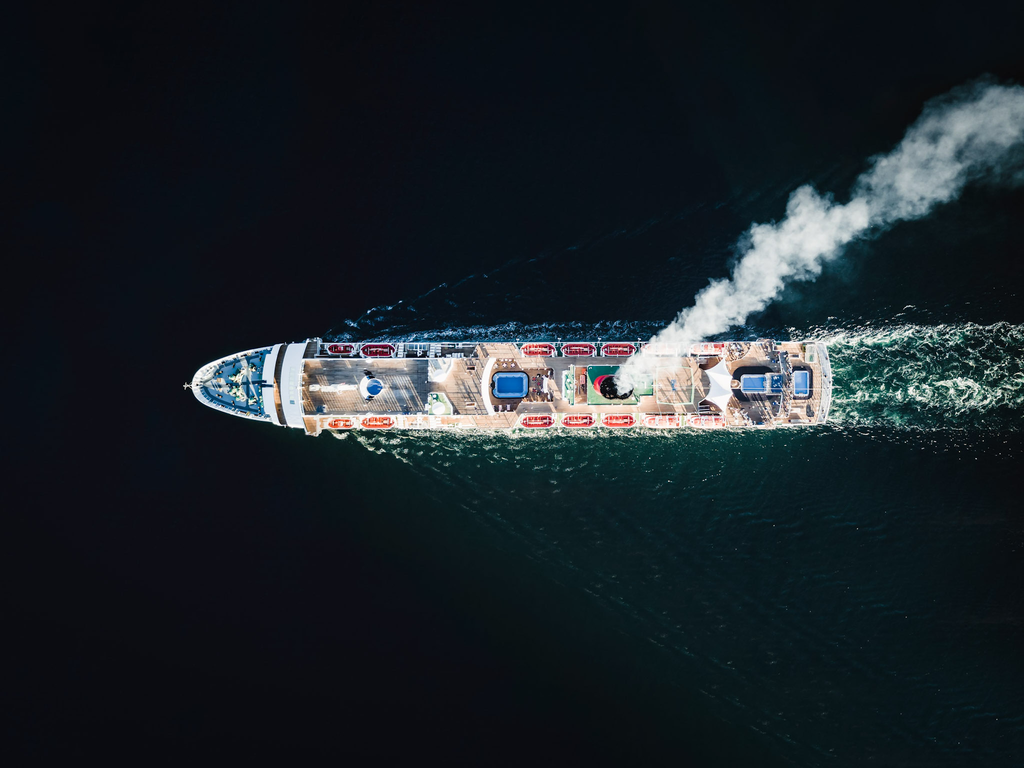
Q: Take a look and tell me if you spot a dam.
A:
No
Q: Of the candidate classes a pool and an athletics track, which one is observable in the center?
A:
pool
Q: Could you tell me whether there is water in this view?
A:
Yes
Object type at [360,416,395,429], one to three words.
boat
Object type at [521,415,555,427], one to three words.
boat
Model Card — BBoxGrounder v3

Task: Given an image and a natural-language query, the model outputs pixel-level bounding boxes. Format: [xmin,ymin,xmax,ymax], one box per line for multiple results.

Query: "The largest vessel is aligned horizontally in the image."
[183,337,839,436]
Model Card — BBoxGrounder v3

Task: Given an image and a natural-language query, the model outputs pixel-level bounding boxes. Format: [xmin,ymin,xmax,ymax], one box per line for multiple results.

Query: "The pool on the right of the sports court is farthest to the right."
[794,371,809,396]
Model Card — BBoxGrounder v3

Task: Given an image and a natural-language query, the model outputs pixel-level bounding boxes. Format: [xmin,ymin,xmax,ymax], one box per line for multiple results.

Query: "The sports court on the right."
[651,366,700,416]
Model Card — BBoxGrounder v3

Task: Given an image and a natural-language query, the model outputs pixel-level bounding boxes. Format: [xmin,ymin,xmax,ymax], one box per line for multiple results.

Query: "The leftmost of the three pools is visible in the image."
[489,371,529,398]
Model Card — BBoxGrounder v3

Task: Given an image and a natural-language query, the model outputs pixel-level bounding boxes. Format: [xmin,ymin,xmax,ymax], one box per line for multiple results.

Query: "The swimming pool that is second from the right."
[740,375,766,393]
